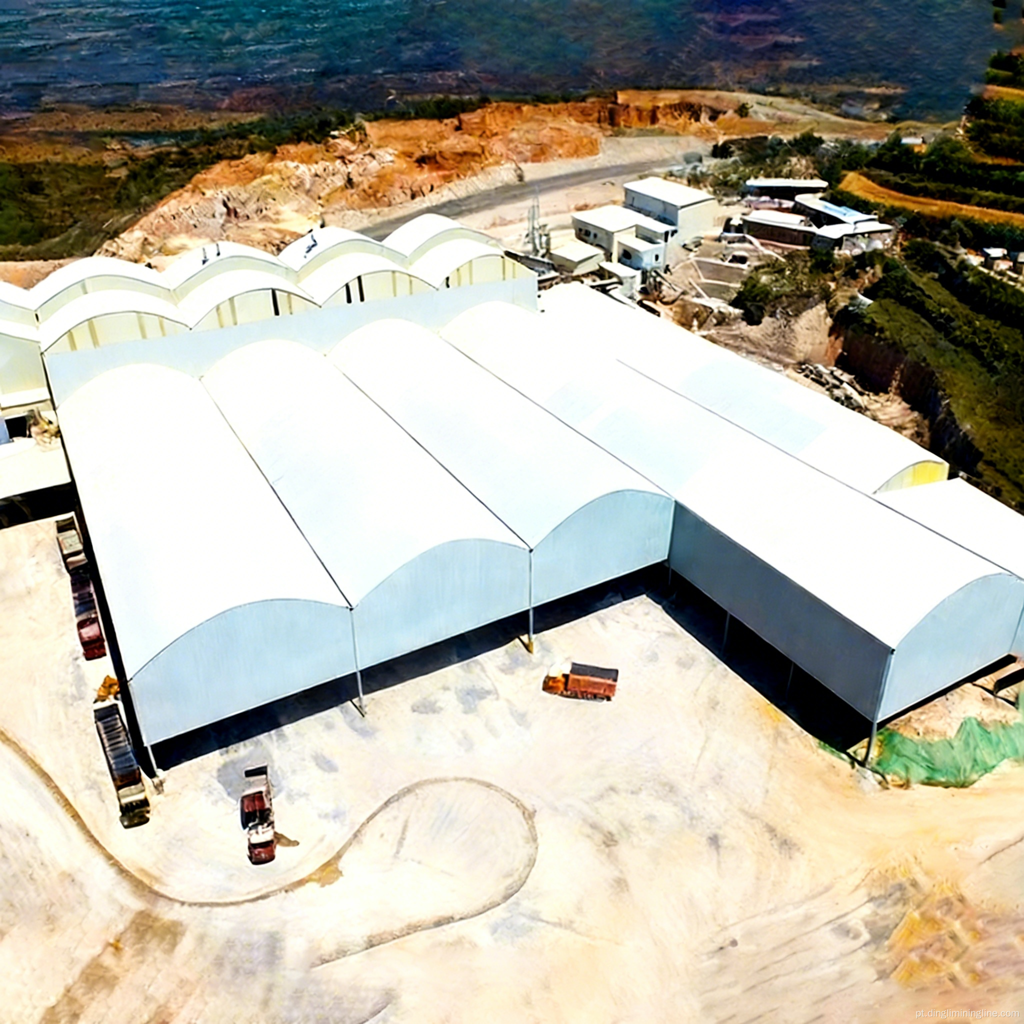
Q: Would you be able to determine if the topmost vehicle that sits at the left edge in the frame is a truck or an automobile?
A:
truck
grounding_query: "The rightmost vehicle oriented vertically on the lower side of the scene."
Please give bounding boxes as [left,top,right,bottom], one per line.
[236,754,274,862]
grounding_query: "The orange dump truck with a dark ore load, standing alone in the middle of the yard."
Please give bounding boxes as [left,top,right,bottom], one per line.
[538,661,614,700]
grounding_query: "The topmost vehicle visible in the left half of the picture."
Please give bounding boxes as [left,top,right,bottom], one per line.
[42,503,90,566]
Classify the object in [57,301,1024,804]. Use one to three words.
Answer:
warehouse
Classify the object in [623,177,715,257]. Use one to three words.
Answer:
house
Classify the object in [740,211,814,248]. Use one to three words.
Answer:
building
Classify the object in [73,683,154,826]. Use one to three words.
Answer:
truck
